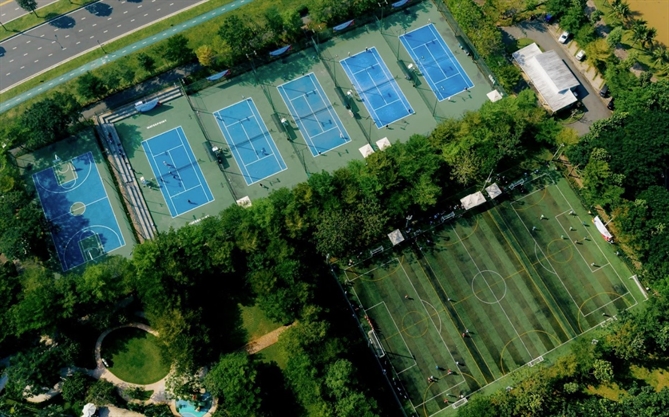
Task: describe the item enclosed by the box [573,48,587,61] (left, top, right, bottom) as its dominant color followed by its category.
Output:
white vehicle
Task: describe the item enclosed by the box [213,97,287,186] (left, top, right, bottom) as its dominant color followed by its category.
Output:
blue tennis court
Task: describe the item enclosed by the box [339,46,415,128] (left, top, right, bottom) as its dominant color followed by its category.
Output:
blue tennis court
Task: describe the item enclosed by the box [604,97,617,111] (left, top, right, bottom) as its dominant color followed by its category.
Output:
black vehicle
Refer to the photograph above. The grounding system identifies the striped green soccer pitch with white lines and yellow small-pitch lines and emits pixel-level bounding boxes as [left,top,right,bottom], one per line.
[326,154,651,417]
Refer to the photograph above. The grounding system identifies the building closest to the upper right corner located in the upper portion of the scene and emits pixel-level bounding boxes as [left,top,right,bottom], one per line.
[508,42,579,115]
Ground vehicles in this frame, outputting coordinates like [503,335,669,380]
[571,87,582,101]
[557,31,568,44]
[597,84,610,97]
[604,97,617,111]
[573,48,587,61]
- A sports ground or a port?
sports ground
